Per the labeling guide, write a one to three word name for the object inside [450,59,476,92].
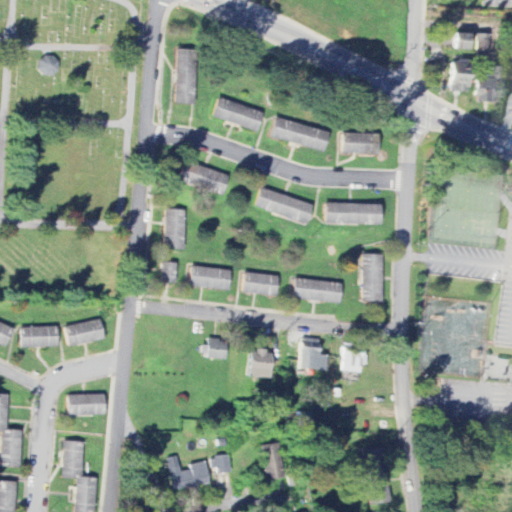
house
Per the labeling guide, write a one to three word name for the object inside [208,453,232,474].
building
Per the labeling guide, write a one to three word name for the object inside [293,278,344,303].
house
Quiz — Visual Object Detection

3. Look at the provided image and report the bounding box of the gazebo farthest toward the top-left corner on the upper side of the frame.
[36,53,60,77]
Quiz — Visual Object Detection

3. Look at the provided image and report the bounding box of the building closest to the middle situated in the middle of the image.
[242,272,280,296]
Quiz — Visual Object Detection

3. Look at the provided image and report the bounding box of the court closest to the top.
[429,172,504,249]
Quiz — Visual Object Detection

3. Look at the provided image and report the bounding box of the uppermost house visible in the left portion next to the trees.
[177,48,198,104]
